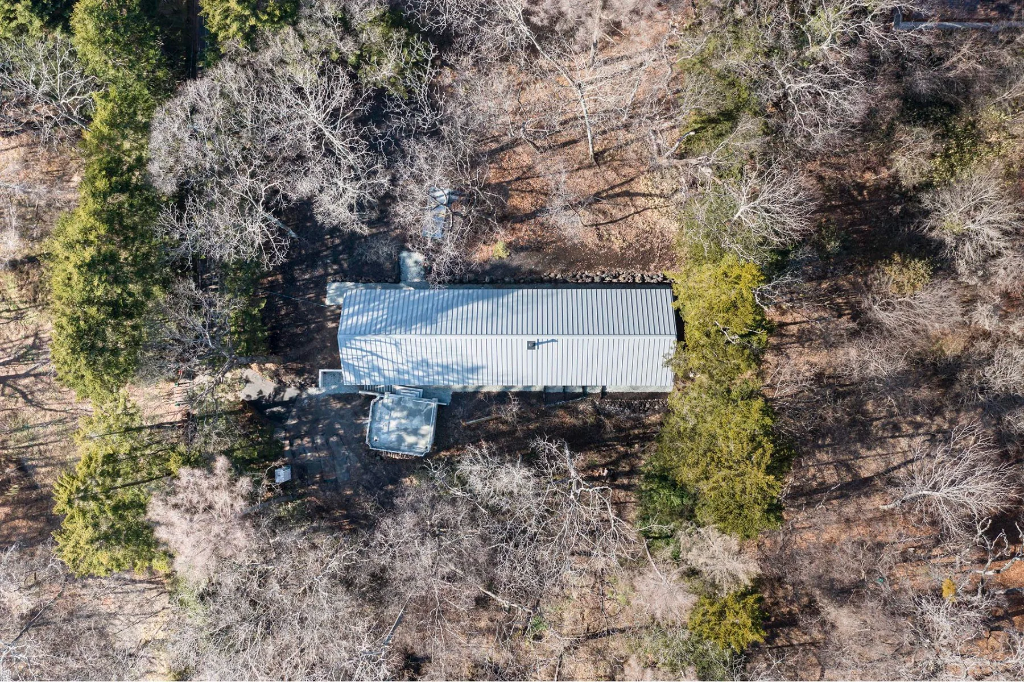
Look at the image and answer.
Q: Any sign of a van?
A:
No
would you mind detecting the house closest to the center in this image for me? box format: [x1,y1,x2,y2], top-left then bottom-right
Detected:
[337,288,678,386]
